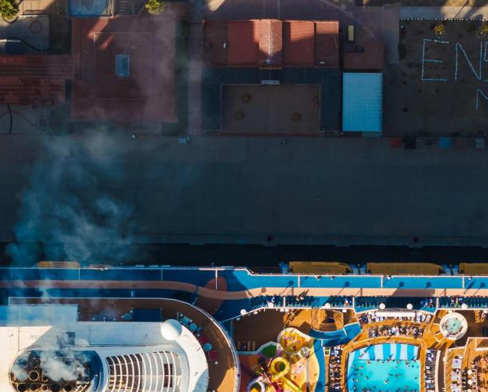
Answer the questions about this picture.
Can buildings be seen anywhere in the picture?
Yes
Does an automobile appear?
No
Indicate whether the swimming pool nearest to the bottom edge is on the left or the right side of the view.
right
